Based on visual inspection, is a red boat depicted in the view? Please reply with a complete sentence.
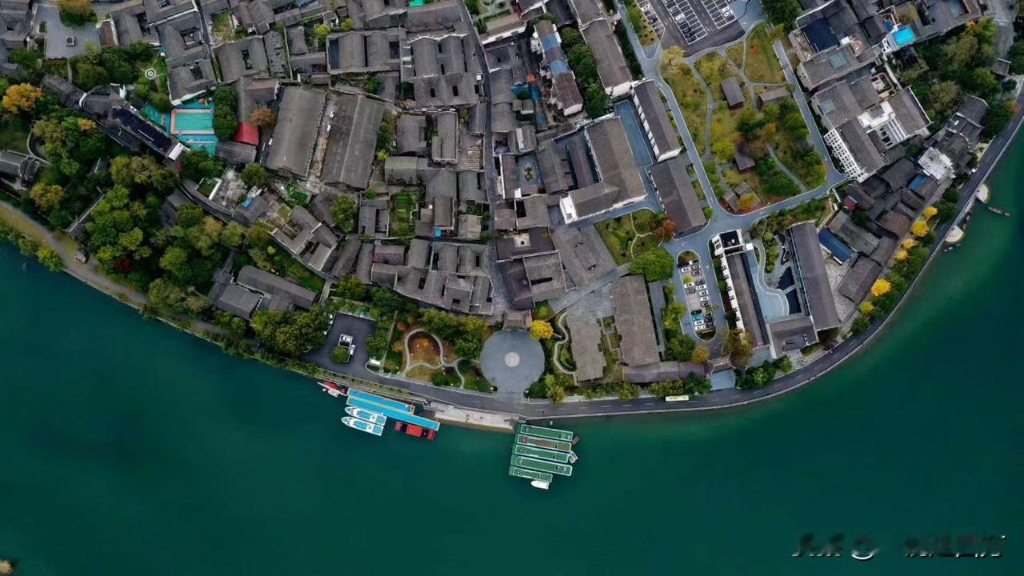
Yes, the picture does show a red boat.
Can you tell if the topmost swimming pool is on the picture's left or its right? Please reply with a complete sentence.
You can find the topmost swimming pool on the right side of the picture.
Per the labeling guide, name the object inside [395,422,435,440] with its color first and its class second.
red boat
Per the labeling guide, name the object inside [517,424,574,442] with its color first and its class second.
green vessel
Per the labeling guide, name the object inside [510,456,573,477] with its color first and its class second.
green vessel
